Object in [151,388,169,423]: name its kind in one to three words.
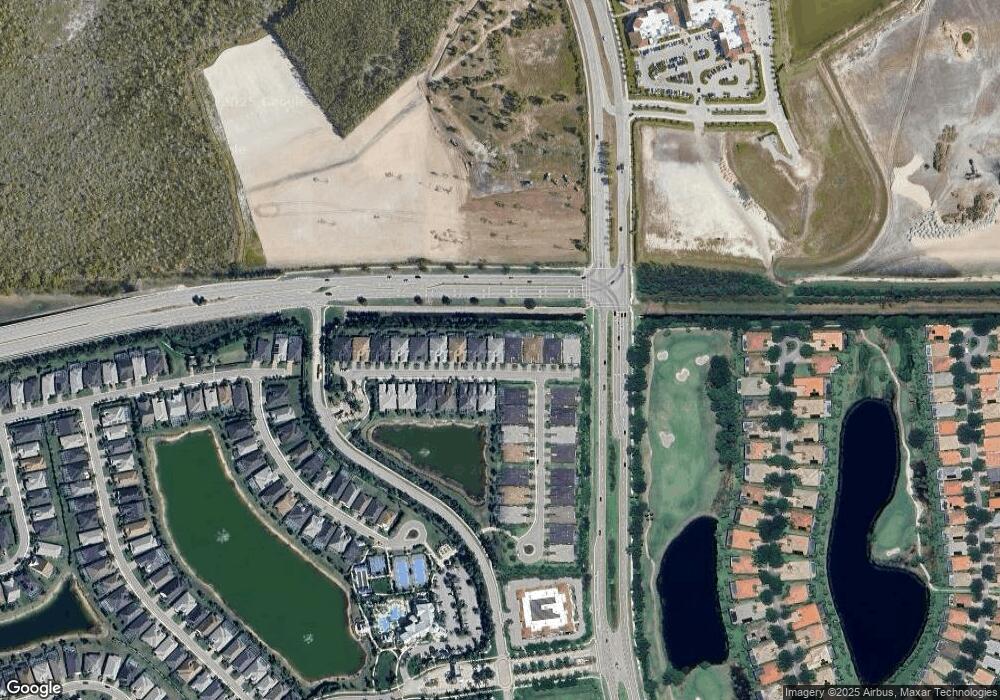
house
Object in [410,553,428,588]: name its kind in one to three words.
tennis court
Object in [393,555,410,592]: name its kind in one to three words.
tennis court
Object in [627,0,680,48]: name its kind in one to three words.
building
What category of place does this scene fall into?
residential area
